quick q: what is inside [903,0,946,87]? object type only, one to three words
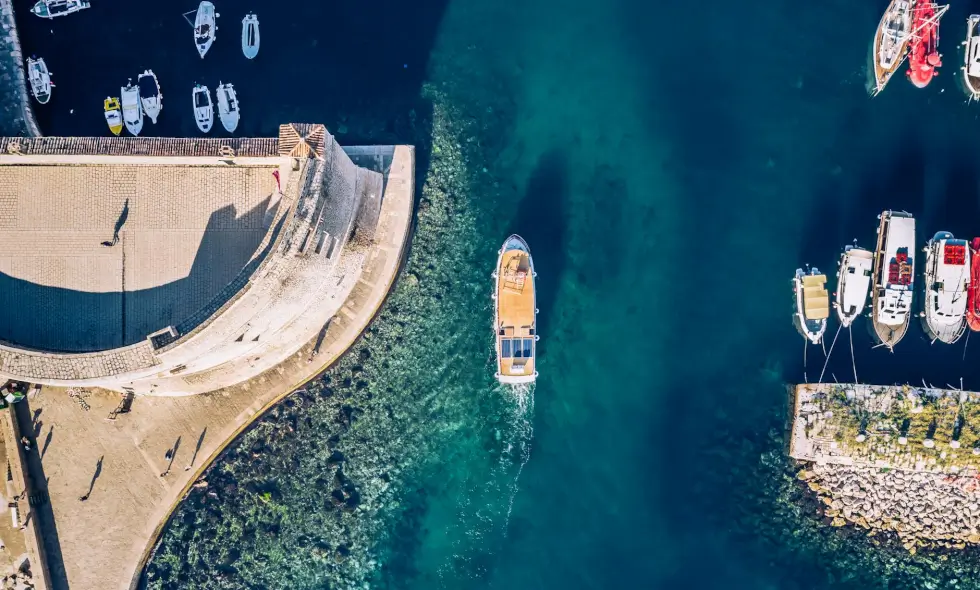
vessel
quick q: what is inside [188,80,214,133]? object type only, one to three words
boat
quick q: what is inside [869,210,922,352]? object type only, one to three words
boat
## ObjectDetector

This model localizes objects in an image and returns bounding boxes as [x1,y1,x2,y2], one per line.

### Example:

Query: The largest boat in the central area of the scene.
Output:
[492,233,540,381]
